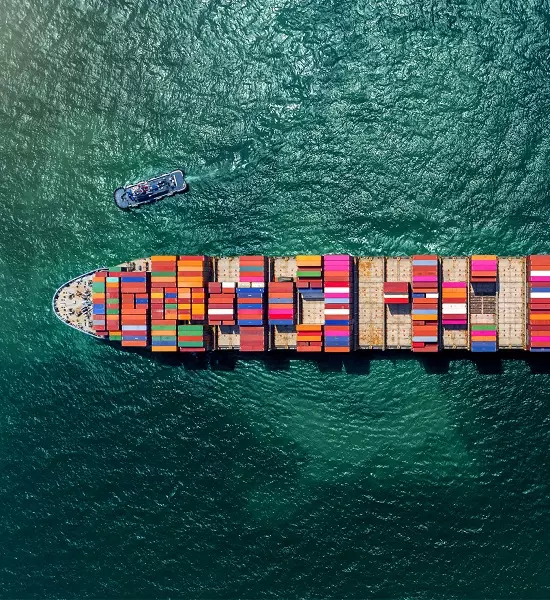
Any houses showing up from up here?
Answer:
No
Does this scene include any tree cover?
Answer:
No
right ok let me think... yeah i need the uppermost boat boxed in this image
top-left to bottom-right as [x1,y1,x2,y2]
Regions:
[115,172,188,207]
